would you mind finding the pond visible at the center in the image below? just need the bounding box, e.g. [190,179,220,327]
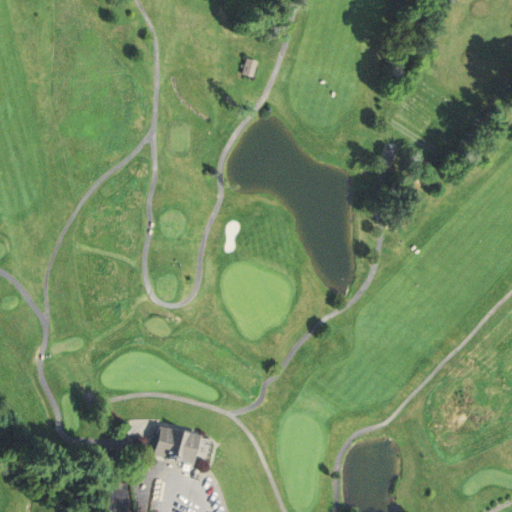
[227,117,355,294]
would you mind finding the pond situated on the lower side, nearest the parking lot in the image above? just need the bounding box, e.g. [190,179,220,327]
[343,438,400,512]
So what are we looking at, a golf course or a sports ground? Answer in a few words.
golf course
